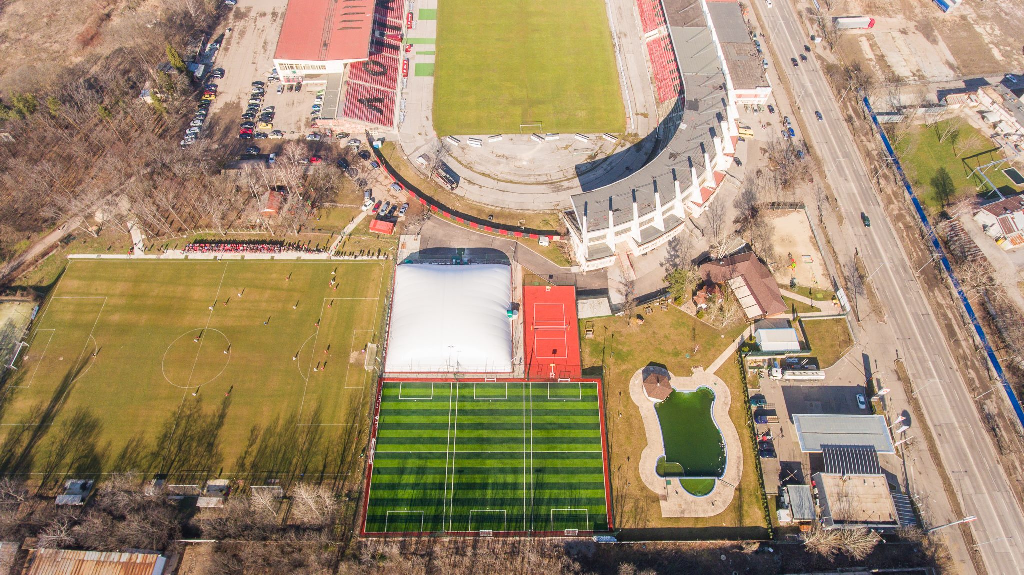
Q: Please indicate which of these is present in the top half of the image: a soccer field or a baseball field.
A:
soccer field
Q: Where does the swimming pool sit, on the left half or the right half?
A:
right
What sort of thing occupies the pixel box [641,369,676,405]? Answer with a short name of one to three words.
building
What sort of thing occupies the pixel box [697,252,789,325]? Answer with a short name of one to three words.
building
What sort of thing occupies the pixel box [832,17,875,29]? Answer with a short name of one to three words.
vehicle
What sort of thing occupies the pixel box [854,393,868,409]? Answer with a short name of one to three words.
car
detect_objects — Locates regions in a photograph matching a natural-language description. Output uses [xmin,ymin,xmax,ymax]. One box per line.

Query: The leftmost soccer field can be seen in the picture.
[0,301,37,383]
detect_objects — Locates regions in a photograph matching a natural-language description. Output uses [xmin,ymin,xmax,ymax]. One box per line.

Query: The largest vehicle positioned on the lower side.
[772,366,828,380]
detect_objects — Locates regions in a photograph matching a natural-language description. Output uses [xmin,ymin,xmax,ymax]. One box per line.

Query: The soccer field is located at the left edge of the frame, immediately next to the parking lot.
[0,259,391,487]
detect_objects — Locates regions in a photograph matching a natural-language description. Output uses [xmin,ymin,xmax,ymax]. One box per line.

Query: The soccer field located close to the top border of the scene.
[433,0,625,135]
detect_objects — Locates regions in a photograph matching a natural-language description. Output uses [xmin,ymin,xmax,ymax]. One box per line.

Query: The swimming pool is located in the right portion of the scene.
[629,366,743,519]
